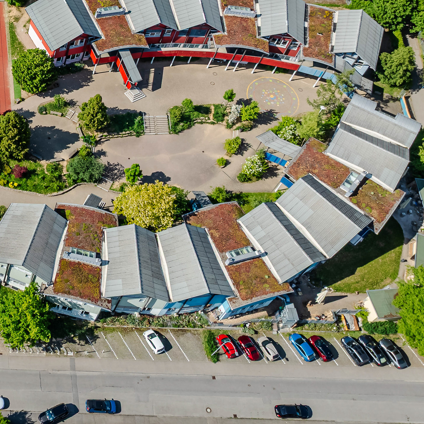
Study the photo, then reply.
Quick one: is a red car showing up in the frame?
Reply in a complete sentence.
Yes, I can see a red car in this picture.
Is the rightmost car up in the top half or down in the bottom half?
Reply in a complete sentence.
The rightmost car sits in the bottom half of the picture.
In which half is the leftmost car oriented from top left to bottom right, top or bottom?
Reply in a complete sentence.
The bottom half of the photo is where the leftmost car oriented from top left to bottom right is.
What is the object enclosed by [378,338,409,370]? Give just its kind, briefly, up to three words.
car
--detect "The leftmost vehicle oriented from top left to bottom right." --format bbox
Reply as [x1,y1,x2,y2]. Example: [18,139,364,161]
[142,327,166,357]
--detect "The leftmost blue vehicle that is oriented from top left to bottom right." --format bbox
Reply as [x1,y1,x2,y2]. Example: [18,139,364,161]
[288,332,317,364]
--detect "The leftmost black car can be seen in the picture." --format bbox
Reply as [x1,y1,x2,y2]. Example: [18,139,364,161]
[36,402,71,424]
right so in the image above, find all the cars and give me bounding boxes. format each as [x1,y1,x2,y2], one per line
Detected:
[288,332,317,364]
[236,334,261,362]
[85,398,118,415]
[358,335,389,367]
[142,327,166,357]
[36,402,71,424]
[272,401,314,421]
[256,334,281,364]
[308,334,334,364]
[378,338,409,370]
[341,335,370,367]
[215,332,241,361]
